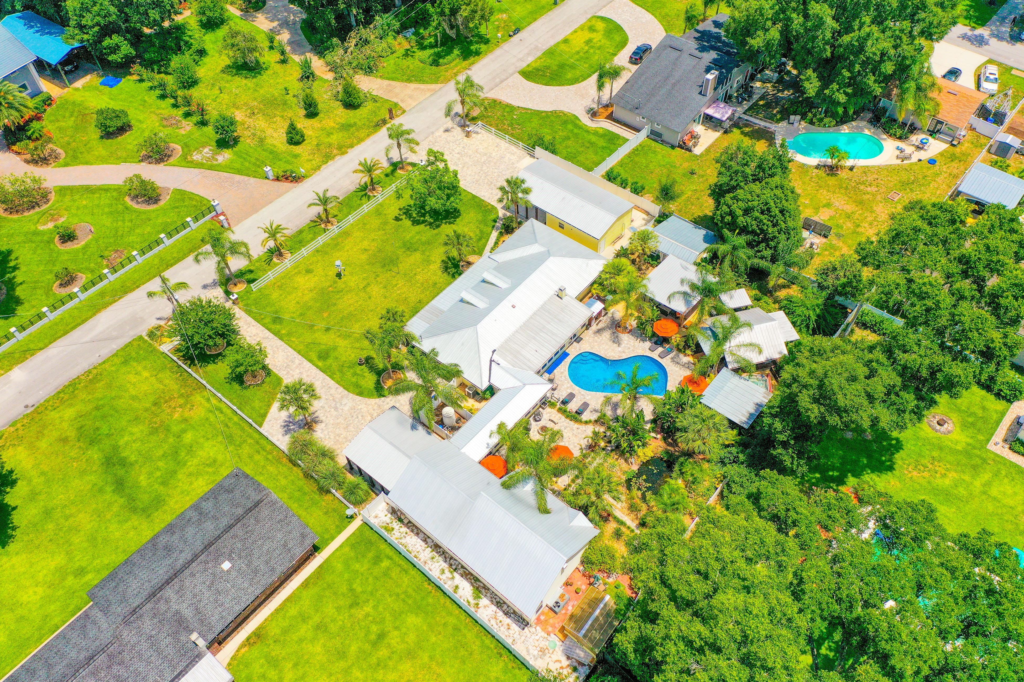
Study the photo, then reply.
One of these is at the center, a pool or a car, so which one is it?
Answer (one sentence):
There is a pool at the center.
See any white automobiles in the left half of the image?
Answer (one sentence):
No, no white automobile appears in the left half of the image.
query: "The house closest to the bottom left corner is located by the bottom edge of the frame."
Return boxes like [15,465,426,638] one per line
[3,466,320,682]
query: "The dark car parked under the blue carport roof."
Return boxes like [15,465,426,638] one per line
[58,55,76,76]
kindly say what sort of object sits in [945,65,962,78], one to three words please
vehicle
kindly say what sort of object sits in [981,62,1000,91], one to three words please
car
